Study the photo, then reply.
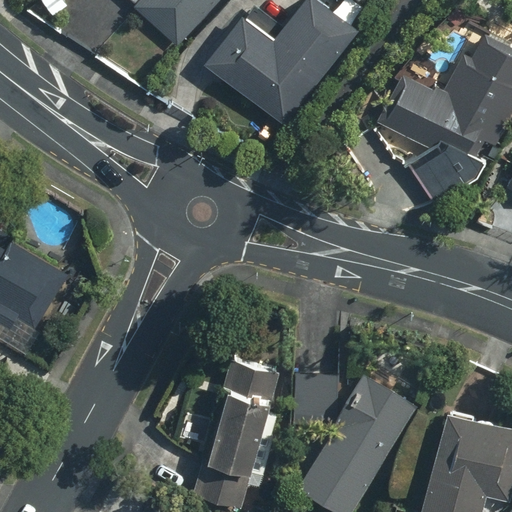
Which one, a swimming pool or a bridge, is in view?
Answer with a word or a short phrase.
swimming pool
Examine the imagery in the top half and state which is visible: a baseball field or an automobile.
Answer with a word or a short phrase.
automobile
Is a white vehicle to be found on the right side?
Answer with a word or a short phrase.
No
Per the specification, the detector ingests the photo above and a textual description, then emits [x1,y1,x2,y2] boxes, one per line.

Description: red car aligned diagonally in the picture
[258,0,288,24]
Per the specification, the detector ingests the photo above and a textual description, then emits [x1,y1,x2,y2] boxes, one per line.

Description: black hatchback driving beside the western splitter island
[92,160,122,188]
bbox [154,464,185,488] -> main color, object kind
white car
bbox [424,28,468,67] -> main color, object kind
blue swimming pool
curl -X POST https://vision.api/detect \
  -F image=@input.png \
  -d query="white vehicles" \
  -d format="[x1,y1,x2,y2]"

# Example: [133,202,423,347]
[154,464,185,488]
[18,502,34,512]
